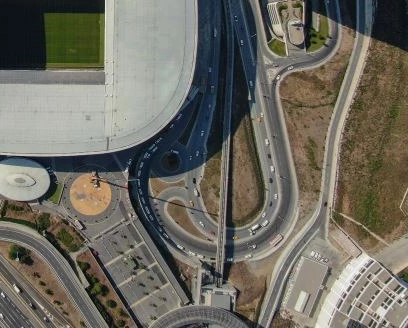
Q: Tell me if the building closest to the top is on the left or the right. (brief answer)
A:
right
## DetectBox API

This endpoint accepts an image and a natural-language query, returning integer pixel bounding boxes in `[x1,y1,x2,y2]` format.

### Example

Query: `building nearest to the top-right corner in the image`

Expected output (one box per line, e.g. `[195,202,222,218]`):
[265,0,306,55]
